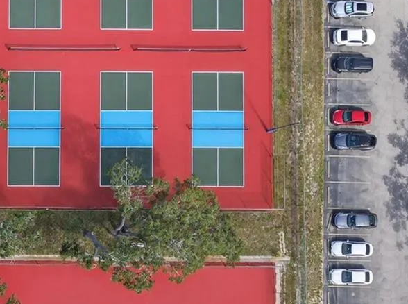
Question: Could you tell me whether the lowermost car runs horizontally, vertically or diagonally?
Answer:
horizontally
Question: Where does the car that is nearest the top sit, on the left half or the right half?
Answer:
right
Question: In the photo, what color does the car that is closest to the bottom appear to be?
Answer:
white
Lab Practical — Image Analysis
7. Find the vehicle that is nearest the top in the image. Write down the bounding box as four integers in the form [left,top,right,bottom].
[330,0,374,21]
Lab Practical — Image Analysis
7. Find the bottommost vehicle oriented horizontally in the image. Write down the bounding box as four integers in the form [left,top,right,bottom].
[329,268,372,288]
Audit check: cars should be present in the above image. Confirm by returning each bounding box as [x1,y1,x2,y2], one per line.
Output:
[329,268,372,288]
[333,132,378,152]
[330,0,374,21]
[331,54,373,74]
[331,107,372,127]
[333,211,378,231]
[330,240,373,259]
[332,27,374,48]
